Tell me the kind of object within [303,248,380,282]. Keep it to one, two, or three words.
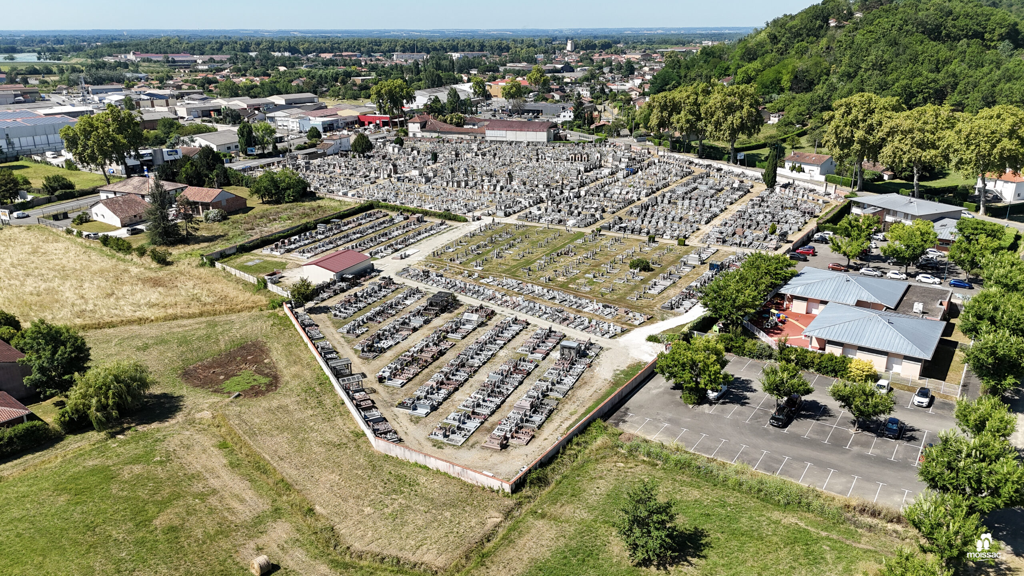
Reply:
shed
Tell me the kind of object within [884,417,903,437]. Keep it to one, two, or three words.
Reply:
car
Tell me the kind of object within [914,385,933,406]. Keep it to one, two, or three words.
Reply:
car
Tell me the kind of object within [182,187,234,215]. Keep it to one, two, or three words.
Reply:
house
